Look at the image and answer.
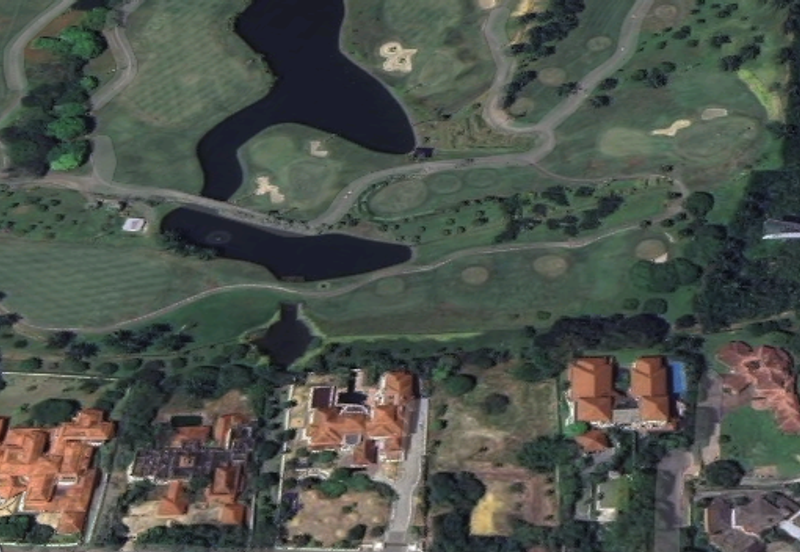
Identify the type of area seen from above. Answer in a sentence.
This image shows a golf course.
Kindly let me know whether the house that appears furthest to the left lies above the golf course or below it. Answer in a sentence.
Within the scene, the house that appears furthest to the left can be found below the golf course.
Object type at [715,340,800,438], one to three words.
house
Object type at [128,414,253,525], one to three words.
house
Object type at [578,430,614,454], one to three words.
building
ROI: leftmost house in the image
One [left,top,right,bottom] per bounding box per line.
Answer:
[0,408,114,535]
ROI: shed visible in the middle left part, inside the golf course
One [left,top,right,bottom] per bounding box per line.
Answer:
[123,219,149,237]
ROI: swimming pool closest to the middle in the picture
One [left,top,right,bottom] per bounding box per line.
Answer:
[338,375,370,404]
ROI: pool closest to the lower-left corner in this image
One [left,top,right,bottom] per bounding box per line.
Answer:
[168,413,205,428]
